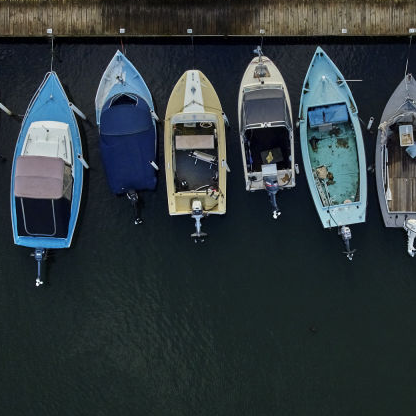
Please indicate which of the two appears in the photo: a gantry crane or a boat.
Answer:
boat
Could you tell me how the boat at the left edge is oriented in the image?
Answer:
from top to bottom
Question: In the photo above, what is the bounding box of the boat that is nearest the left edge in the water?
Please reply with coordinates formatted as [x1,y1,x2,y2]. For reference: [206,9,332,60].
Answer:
[10,71,84,287]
